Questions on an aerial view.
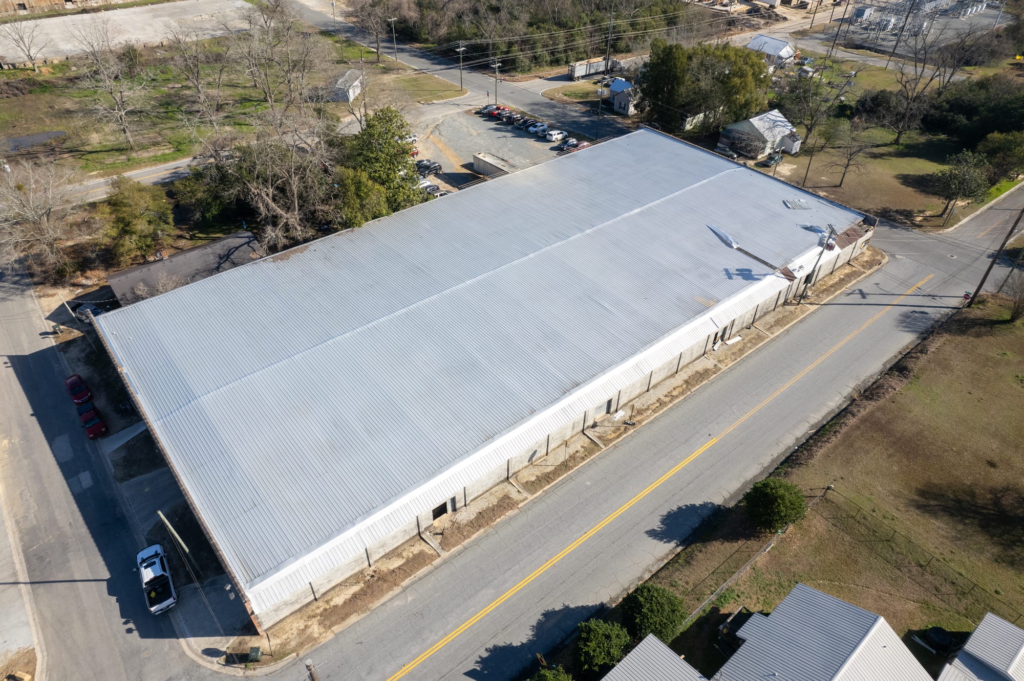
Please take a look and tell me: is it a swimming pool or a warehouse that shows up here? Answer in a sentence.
The image shows a warehouse.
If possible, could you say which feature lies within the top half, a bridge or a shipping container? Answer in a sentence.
You can see a shipping container within the top half.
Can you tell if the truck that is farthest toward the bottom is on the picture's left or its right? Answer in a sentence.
The truck that is farthest toward the bottom sits on the left side.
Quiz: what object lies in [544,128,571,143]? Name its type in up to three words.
car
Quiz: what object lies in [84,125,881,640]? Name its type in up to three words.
warehouse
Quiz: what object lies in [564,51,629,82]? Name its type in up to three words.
truck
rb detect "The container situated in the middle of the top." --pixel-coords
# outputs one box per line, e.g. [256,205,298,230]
[472,148,523,178]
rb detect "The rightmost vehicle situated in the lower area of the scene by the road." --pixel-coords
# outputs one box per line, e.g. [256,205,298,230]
[132,542,181,617]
